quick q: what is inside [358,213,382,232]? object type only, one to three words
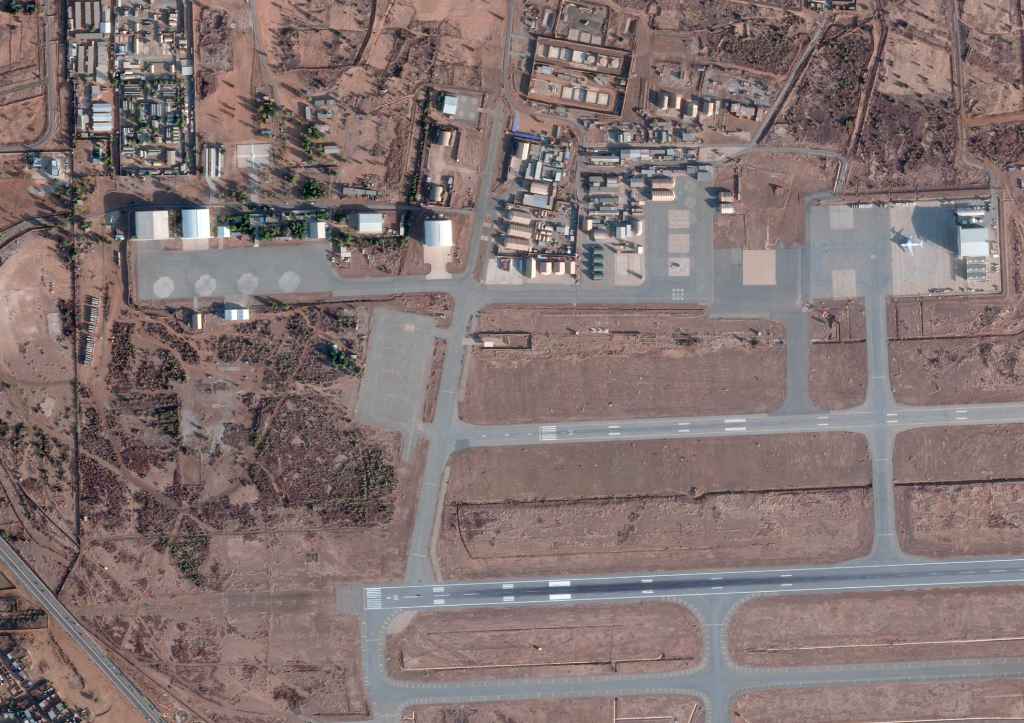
hangar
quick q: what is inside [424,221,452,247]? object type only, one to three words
hangar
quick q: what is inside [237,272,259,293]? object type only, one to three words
helipad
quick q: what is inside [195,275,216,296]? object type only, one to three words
helipad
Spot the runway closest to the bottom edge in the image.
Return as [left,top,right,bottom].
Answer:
[336,556,1024,615]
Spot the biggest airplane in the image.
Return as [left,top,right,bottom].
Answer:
[901,233,925,257]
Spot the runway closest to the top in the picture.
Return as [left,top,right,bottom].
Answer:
[480,402,1024,447]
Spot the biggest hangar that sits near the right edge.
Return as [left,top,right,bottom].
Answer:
[957,227,989,256]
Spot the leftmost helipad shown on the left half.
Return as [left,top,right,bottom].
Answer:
[153,277,174,298]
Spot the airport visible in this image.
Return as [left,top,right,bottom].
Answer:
[137,101,1024,723]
